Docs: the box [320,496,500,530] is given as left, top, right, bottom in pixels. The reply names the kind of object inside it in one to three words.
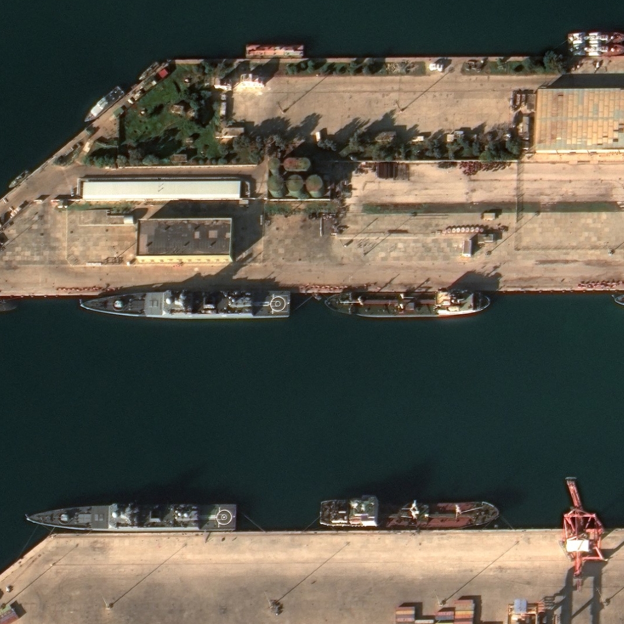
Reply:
ship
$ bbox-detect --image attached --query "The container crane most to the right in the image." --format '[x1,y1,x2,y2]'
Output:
[562,479,606,596]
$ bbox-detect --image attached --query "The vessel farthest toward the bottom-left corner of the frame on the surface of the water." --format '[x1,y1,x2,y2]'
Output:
[26,502,237,532]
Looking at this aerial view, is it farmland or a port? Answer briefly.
port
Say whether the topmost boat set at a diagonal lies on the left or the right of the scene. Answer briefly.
left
